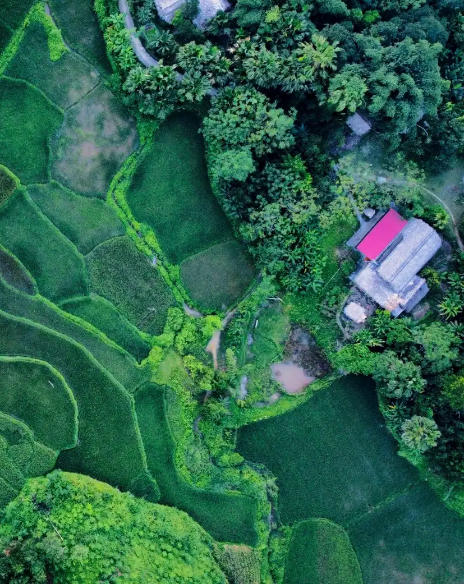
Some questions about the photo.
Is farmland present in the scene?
Yes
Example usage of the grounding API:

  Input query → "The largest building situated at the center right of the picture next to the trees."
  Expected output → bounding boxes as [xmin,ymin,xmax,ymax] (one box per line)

[350,217,443,319]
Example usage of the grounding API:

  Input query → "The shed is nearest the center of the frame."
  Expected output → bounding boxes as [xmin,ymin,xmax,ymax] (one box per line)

[342,300,367,325]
